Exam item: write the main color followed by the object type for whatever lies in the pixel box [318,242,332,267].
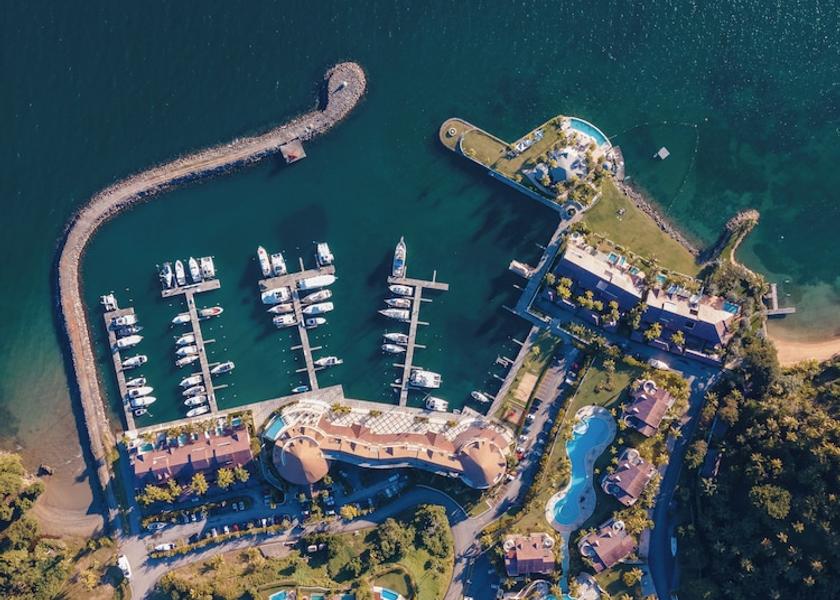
white boat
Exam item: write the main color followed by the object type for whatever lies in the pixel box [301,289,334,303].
white boat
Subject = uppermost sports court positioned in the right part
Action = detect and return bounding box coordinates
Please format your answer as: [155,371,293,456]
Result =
[513,372,537,403]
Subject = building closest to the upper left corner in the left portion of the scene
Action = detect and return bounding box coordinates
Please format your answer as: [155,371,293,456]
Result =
[281,140,306,163]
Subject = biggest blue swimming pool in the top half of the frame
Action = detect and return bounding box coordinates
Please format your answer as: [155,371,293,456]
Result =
[570,119,607,148]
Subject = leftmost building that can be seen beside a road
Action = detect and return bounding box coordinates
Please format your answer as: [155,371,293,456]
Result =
[135,424,260,490]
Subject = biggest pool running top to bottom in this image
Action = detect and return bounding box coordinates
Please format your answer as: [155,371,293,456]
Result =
[546,405,617,533]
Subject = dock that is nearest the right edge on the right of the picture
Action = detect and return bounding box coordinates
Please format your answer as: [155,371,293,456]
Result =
[764,284,796,314]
